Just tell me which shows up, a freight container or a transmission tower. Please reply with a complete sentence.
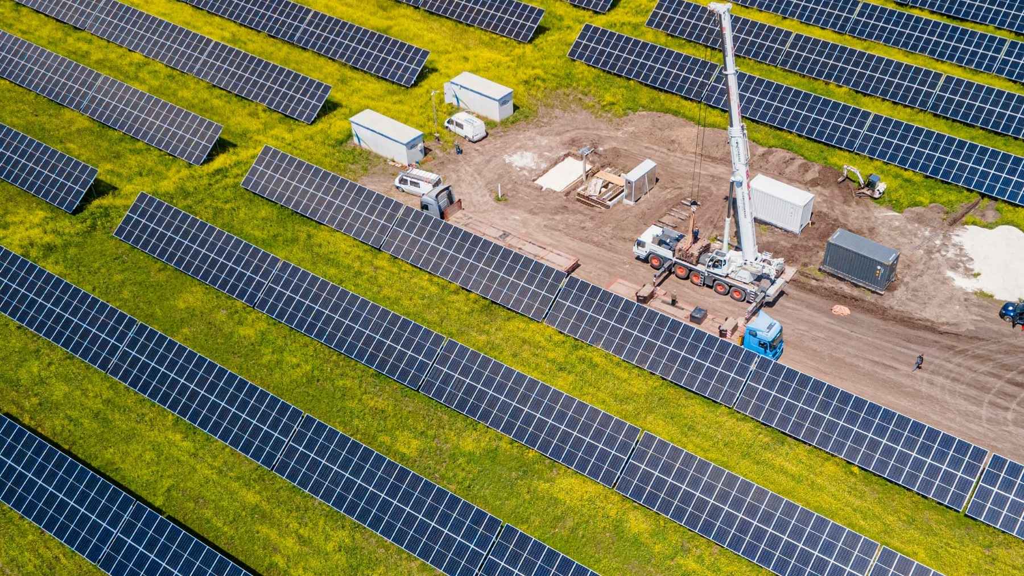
Visible in the photo is a freight container.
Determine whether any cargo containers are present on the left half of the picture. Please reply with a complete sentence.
No, looking on the left half of the picture, there is no cargo container.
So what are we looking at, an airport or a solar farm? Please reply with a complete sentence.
It's a solar farm.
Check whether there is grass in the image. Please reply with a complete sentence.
Yes, the picture does contain grass.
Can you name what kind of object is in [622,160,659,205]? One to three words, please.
shed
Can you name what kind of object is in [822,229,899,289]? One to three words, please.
shipping container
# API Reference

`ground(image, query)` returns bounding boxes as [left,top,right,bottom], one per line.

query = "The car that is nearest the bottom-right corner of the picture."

[998,301,1024,327]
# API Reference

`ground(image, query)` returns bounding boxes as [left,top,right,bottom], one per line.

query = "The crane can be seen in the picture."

[633,4,787,326]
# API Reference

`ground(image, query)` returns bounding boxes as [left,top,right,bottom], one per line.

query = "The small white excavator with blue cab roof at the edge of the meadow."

[840,162,886,205]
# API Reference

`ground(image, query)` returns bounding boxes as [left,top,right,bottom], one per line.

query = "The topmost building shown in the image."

[443,73,515,121]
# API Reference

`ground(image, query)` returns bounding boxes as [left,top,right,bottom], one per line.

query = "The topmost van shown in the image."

[441,108,488,141]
